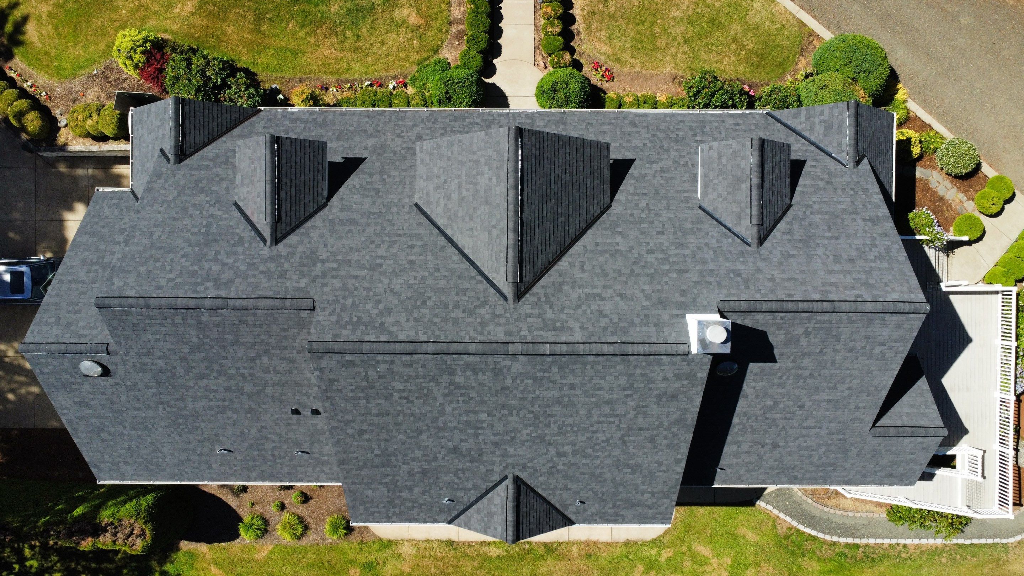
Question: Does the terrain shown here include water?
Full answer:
No, there's no water in this view.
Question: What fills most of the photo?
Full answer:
The bulk of the photo consists of buildings.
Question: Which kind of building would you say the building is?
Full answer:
Looking closely, the building is a residential house.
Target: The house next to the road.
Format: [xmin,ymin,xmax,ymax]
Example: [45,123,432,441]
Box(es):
[16,93,951,545]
